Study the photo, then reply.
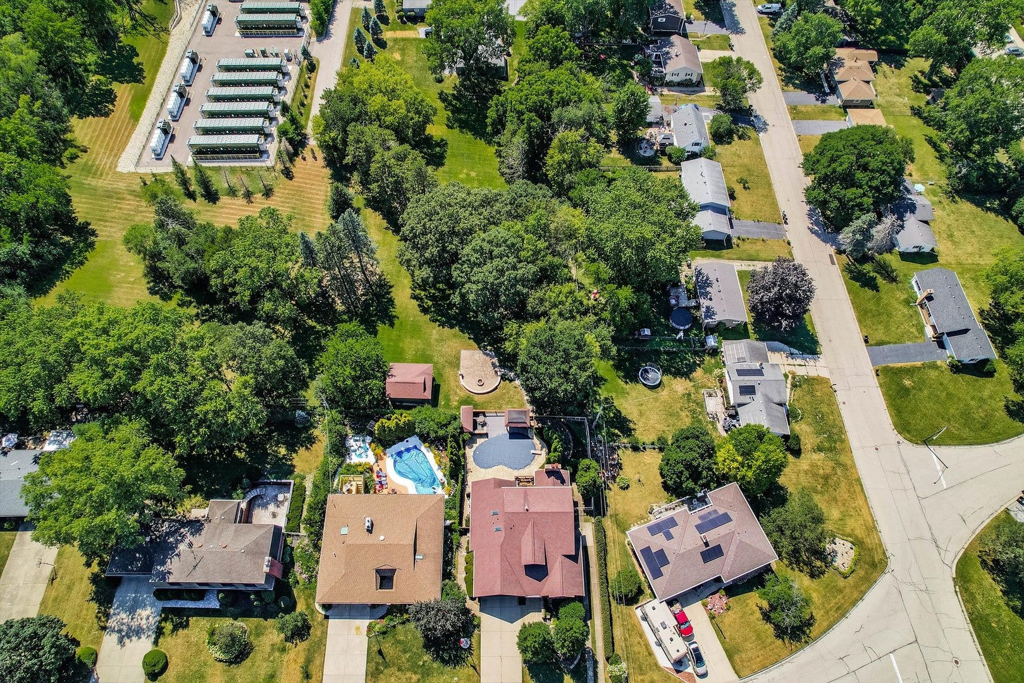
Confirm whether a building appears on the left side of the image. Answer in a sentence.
Yes, a building is visible on the left side of the image.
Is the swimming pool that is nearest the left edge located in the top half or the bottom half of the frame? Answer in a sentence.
The swimming pool that is nearest the left edge sits in the bottom half of the picture.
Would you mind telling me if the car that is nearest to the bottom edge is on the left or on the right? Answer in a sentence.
It is on the right.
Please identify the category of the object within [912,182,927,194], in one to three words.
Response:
umbrella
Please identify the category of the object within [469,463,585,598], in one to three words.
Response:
house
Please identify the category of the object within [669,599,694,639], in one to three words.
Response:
truck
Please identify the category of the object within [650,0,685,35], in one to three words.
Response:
house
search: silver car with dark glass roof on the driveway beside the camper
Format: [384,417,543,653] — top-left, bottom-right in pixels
[686,641,706,676]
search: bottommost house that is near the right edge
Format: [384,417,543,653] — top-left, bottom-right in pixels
[909,269,994,363]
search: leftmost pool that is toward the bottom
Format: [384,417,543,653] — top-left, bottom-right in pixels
[385,436,447,494]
